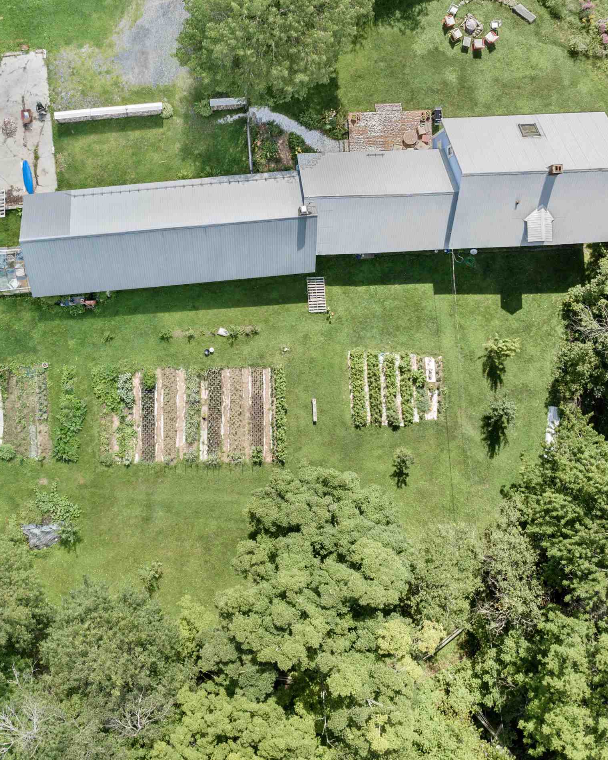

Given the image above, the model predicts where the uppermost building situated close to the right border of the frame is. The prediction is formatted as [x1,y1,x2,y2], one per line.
[431,112,608,251]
